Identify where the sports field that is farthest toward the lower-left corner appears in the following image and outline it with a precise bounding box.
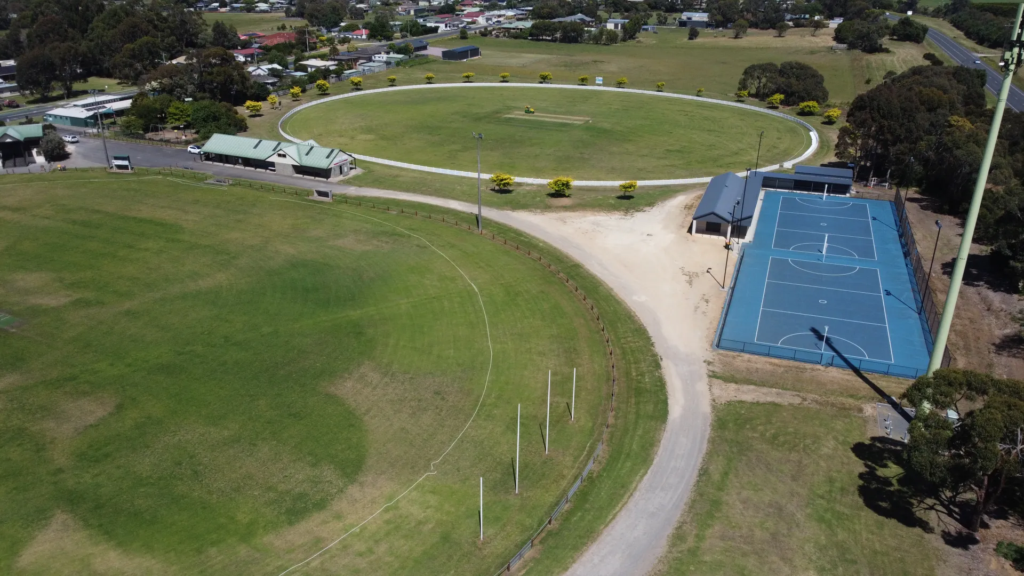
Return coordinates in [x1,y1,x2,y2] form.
[0,169,613,576]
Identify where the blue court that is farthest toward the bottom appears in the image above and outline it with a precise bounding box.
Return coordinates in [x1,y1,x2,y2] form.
[756,256,893,362]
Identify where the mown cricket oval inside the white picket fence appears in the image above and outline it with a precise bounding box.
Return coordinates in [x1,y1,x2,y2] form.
[277,84,820,185]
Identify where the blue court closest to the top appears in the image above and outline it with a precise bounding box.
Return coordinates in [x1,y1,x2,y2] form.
[773,196,876,259]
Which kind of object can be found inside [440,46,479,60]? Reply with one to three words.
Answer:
shed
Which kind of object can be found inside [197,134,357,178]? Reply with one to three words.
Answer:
building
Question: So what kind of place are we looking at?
sports ground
